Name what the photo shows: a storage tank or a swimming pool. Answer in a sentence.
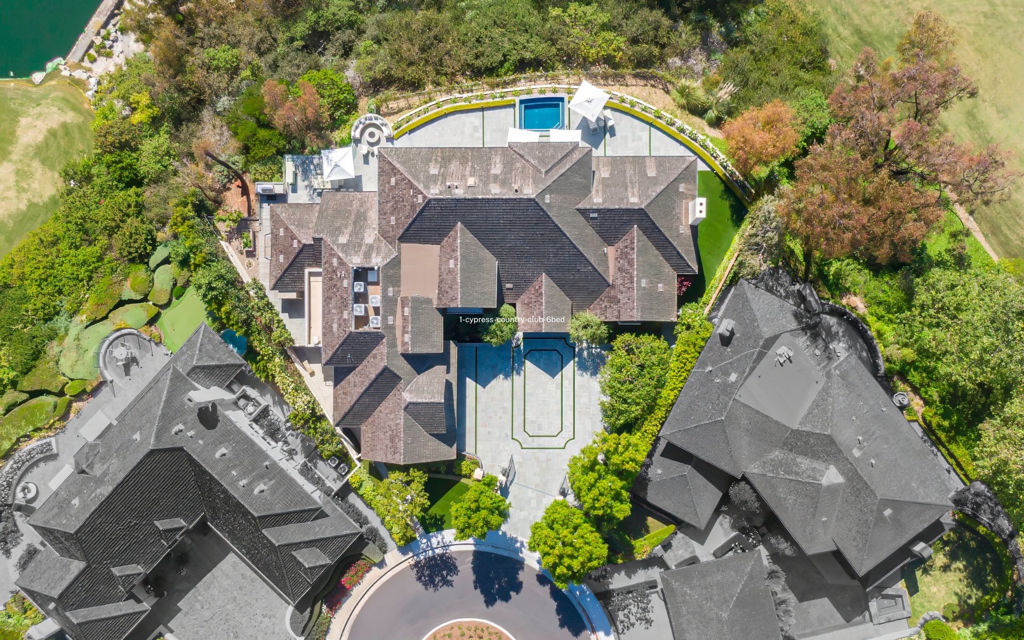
Visible in the photo is a swimming pool.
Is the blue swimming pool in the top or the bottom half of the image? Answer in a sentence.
It is in the top half that the blue swimming pool appears.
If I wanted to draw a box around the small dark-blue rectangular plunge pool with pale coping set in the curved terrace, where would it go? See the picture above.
[515,92,573,135]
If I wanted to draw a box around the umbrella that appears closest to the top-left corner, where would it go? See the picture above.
[322,147,355,181]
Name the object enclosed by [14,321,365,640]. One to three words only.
house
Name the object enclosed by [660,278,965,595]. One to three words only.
house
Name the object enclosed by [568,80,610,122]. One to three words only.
umbrella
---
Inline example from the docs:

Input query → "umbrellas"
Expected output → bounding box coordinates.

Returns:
[550,129,581,142]
[568,80,610,122]
[322,147,355,181]
[508,128,540,142]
